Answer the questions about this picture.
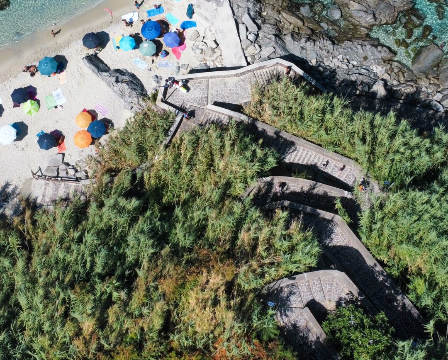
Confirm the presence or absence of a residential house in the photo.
No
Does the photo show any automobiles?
No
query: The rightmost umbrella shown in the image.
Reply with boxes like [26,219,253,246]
[164,33,179,48]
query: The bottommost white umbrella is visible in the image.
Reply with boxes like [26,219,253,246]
[0,126,18,144]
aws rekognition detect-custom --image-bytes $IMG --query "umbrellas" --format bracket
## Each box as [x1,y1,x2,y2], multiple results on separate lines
[38,132,55,149]
[83,32,100,49]
[22,100,38,115]
[140,40,156,56]
[0,126,18,144]
[164,33,179,48]
[9,88,28,105]
[118,36,135,52]
[38,58,58,76]
[141,21,161,39]
[76,111,92,127]
[88,120,106,137]
[74,131,91,148]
